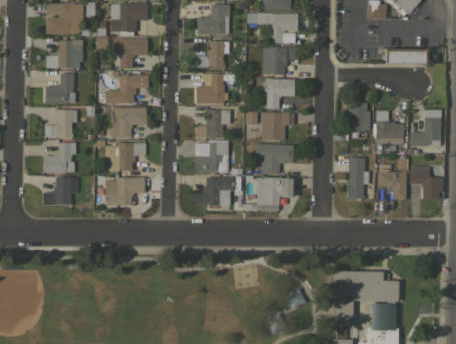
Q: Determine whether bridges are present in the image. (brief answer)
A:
No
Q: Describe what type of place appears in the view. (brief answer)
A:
residential area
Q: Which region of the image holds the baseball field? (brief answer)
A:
bottom left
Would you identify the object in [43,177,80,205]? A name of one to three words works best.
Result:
house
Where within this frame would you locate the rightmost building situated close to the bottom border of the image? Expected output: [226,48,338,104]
[333,271,400,344]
